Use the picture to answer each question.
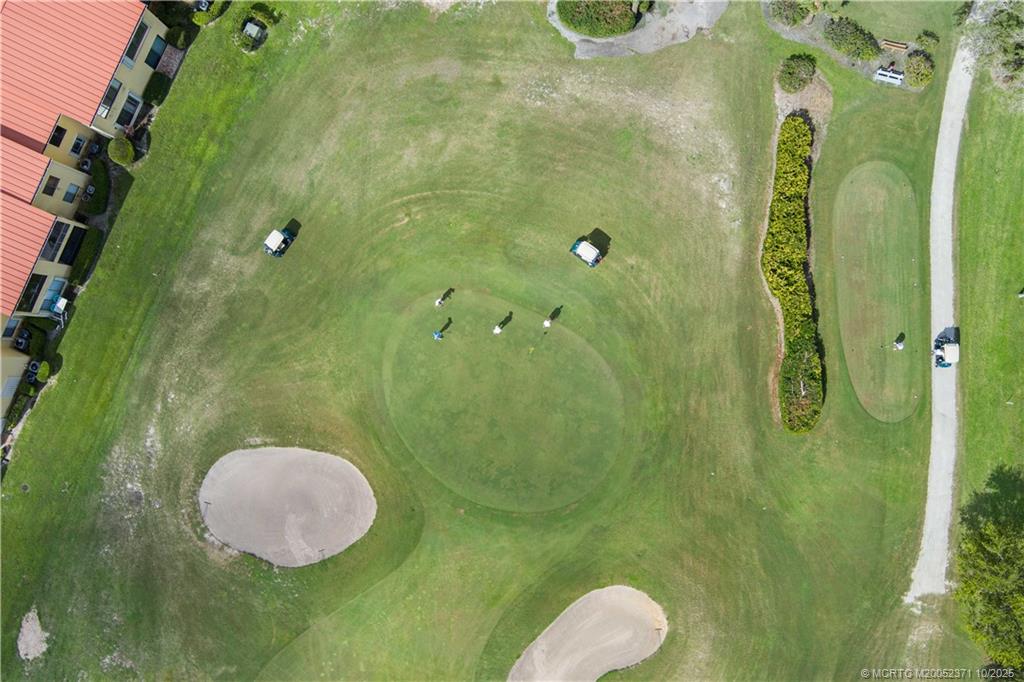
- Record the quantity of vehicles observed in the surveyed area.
3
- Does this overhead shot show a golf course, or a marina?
golf course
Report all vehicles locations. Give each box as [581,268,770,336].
[935,339,959,365]
[265,231,292,258]
[573,241,600,265]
